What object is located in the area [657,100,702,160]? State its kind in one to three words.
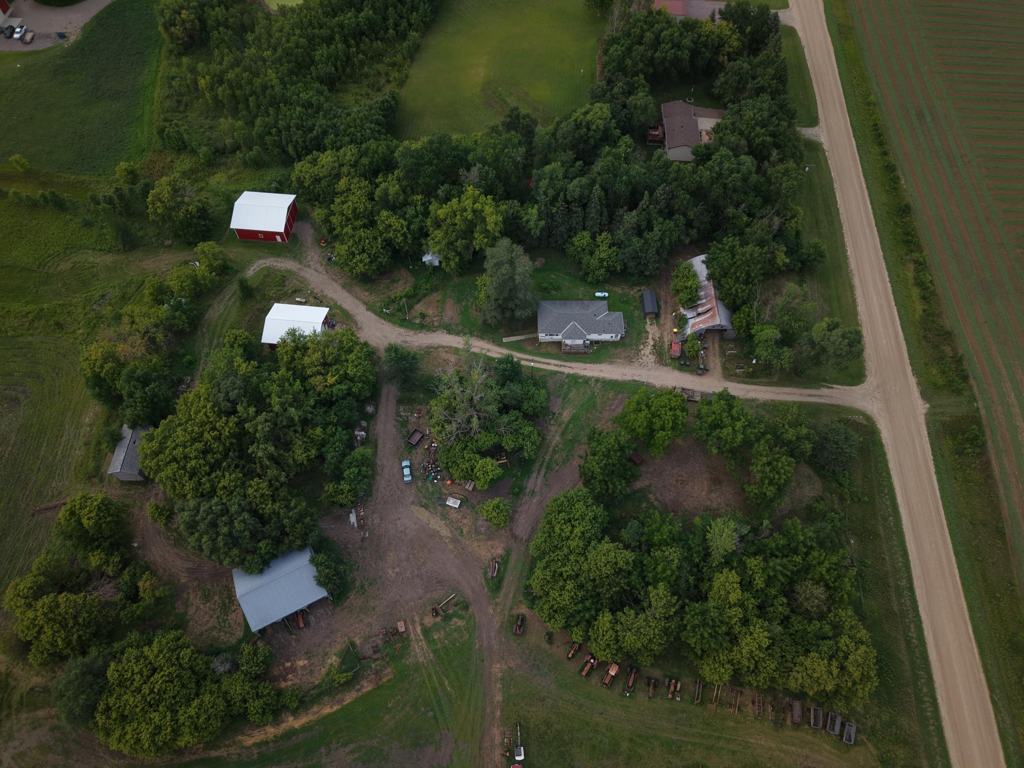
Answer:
house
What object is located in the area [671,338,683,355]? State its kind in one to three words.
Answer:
vehicle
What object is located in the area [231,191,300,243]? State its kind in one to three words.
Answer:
barn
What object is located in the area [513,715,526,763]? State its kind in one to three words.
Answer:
vehicle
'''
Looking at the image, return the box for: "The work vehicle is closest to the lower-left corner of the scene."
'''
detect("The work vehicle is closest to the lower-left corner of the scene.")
[291,609,306,628]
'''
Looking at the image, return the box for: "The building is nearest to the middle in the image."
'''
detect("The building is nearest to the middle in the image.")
[536,300,625,345]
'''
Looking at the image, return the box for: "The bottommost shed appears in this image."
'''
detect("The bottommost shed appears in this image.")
[233,536,333,635]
